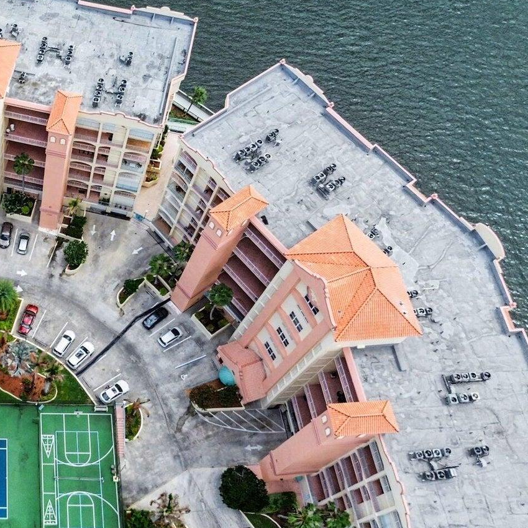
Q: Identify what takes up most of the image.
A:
buildings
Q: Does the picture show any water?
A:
Yes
